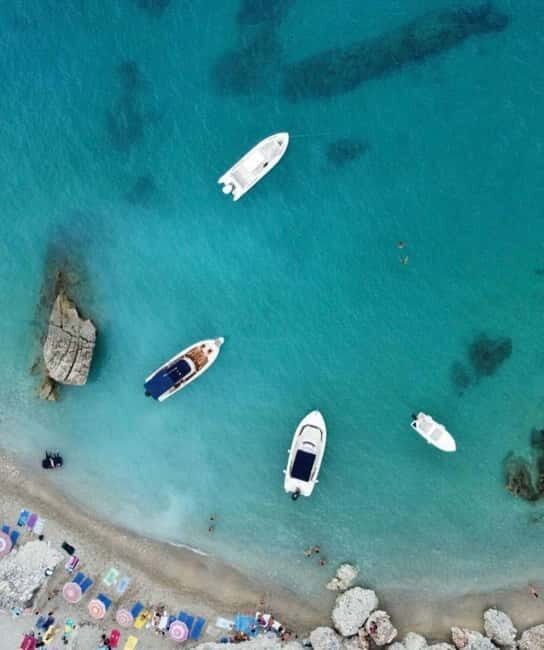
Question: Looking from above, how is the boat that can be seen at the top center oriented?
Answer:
diagonally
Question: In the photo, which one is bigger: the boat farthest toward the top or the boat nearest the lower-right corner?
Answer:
the boat farthest toward the top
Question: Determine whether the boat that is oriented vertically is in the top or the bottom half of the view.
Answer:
bottom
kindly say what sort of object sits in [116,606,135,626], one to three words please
umbrella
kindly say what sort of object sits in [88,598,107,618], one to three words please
umbrella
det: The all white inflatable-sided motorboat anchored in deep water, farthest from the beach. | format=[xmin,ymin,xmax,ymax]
[218,130,303,200]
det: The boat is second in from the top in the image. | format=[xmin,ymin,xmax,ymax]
[142,339,223,403]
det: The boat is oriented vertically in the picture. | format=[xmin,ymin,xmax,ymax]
[285,409,326,500]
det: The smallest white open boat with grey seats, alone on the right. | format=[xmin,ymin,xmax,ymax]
[411,412,458,453]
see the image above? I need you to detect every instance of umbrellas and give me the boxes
[169,618,190,640]
[0,532,13,555]
[88,598,107,618]
[62,581,83,602]
[116,606,135,626]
